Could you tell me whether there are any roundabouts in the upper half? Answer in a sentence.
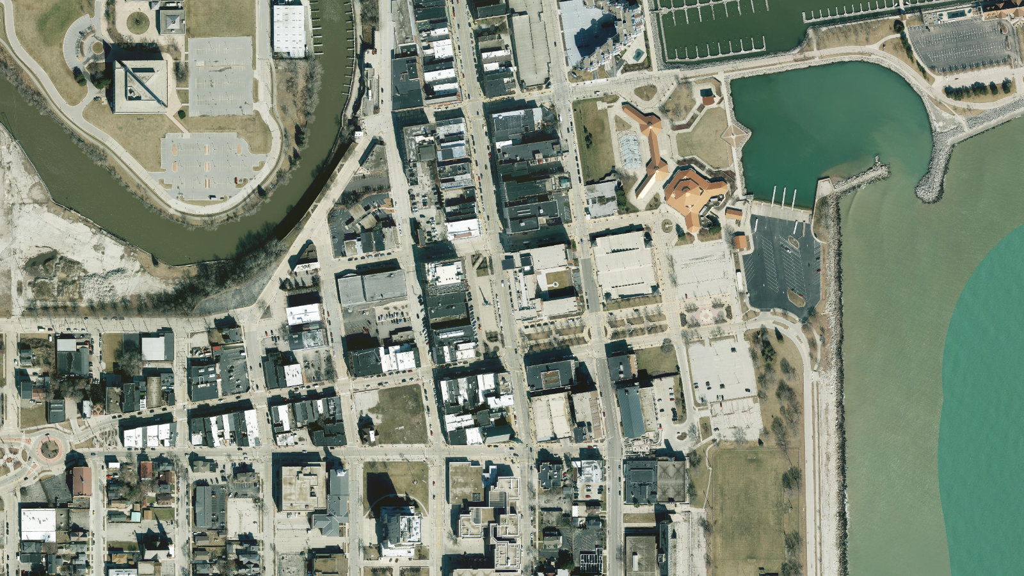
No, the scene shows no roundabout in the upper half.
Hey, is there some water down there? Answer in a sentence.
Yes, water can be seen from above here.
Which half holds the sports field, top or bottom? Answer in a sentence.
The sports field is in the bottom half of the image.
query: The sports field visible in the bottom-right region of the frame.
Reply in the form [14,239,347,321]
[713,449,804,576]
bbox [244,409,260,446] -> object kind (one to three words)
building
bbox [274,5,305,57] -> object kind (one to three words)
building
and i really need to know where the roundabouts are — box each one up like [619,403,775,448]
[27,426,71,469]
